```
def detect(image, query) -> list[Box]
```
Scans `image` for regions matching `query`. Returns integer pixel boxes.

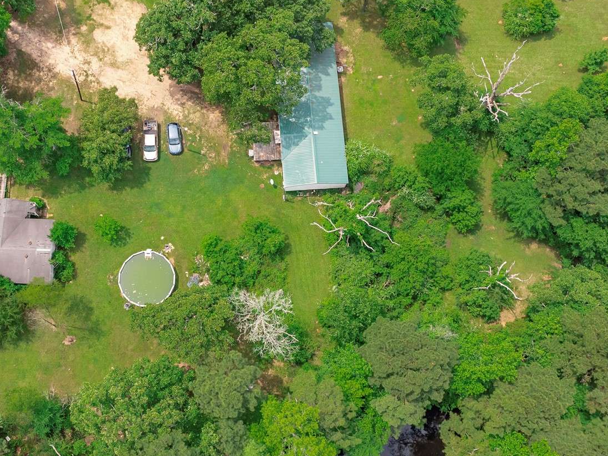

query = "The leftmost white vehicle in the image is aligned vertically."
[141,119,159,162]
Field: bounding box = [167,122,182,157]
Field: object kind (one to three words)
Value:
car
